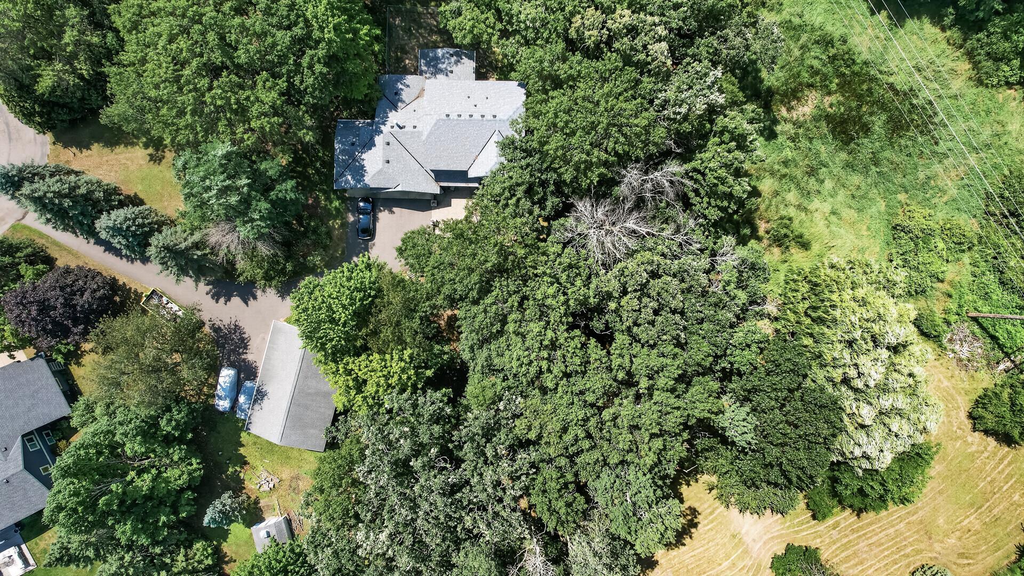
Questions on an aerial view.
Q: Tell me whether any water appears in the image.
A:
No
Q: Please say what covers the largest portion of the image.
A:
trees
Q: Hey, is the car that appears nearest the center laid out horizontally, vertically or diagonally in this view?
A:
vertically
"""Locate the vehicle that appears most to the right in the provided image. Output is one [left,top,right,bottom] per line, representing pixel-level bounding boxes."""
[355,199,375,239]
